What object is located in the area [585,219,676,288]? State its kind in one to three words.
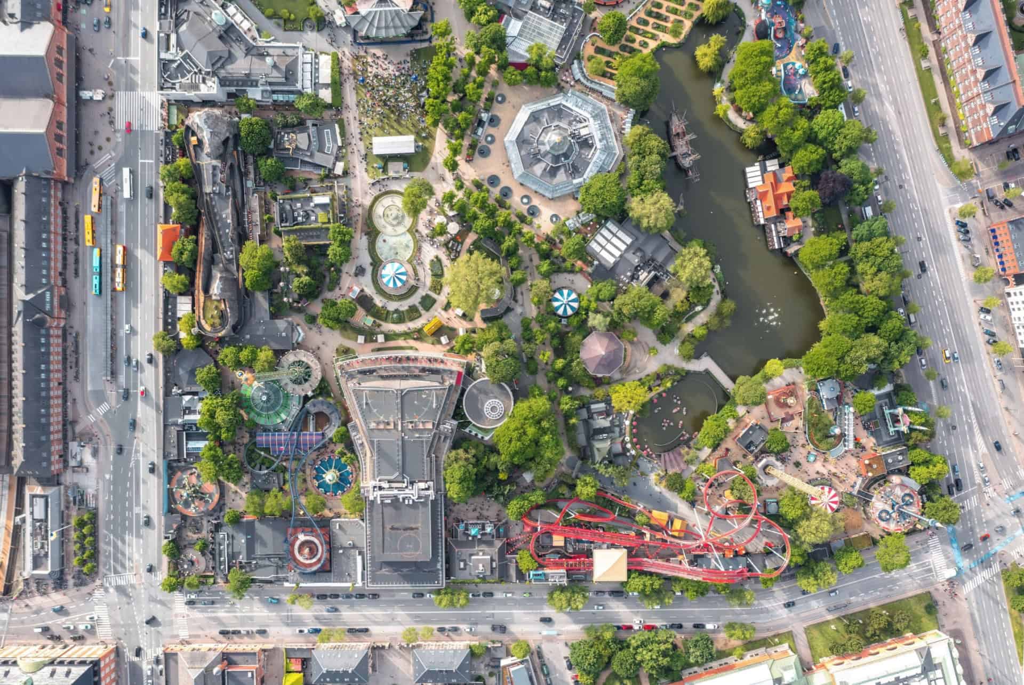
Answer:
building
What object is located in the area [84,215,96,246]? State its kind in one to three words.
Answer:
vehicle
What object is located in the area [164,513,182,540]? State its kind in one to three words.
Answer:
shed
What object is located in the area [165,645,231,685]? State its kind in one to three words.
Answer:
house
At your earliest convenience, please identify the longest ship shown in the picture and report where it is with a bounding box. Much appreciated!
[670,95,701,170]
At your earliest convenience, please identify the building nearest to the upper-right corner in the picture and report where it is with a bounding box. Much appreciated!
[936,0,1024,149]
